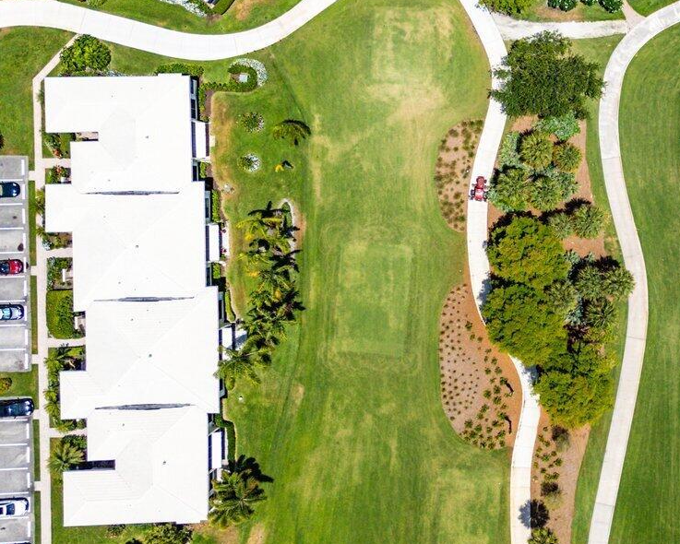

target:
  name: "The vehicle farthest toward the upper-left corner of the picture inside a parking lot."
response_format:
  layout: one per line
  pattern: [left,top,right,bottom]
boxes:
[0,180,23,201]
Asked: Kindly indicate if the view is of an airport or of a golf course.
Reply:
golf course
